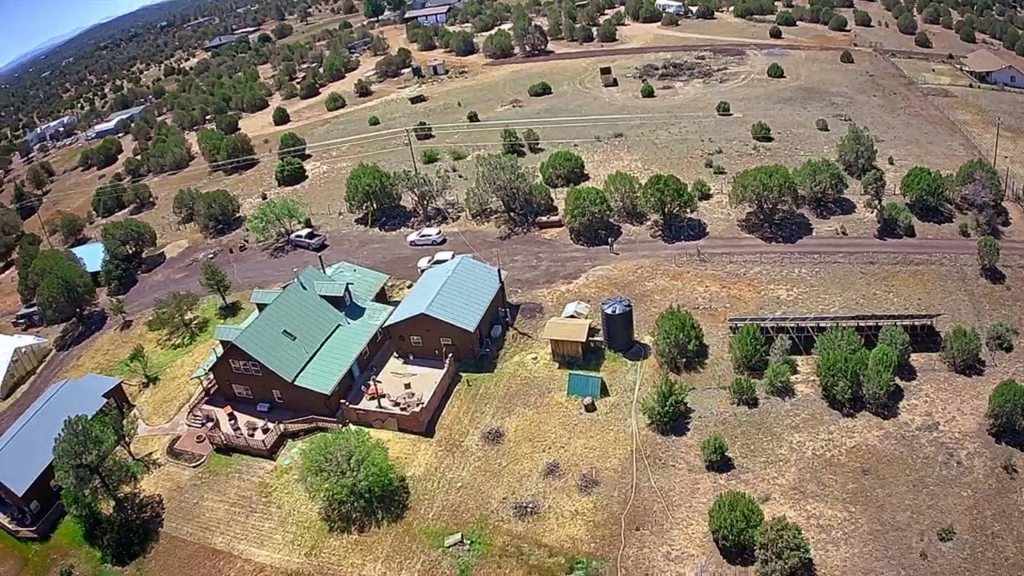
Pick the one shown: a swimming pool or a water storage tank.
water storage tank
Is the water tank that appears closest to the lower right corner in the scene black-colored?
Yes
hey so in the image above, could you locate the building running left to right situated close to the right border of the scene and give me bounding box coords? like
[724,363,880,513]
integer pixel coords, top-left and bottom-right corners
[960,53,1024,86]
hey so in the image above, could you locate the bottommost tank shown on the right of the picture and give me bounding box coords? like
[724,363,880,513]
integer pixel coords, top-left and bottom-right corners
[601,305,635,357]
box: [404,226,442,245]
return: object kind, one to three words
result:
car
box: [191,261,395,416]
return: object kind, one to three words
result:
house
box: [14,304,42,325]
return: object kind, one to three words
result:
truck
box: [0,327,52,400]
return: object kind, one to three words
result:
barn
